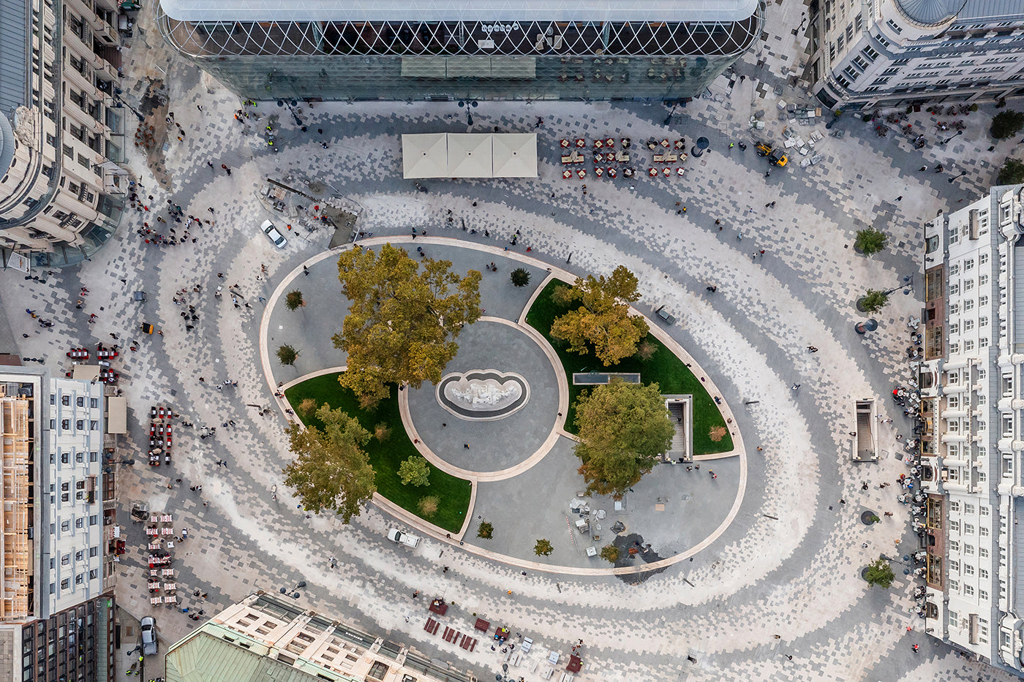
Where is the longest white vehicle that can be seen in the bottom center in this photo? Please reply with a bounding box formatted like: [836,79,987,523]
[386,527,423,551]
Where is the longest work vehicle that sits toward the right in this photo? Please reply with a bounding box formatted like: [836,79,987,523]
[749,141,789,166]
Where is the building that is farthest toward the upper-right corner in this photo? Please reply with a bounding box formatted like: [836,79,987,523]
[808,0,1024,110]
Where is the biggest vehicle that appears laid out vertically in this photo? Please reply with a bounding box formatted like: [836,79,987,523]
[138,613,159,657]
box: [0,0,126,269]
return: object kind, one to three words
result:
building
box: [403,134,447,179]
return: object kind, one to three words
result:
umbrella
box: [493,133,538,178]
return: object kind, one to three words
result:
umbrella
